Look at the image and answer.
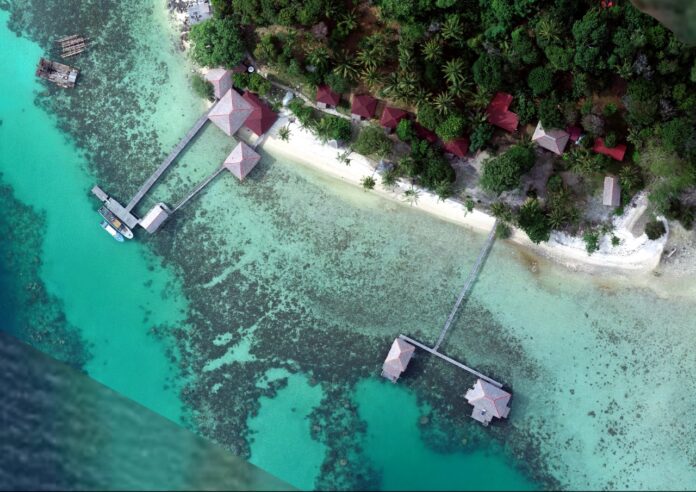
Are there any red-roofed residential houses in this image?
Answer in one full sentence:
Yes, the frame does contain a red-roofed residential house.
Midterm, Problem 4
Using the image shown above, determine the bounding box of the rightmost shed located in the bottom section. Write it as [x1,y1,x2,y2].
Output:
[465,379,512,426]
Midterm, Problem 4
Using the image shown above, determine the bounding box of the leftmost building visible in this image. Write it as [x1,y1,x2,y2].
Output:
[137,201,174,235]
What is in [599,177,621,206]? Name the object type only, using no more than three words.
shed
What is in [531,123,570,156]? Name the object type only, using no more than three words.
house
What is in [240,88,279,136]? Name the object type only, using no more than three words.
building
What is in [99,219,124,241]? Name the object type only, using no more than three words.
boat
